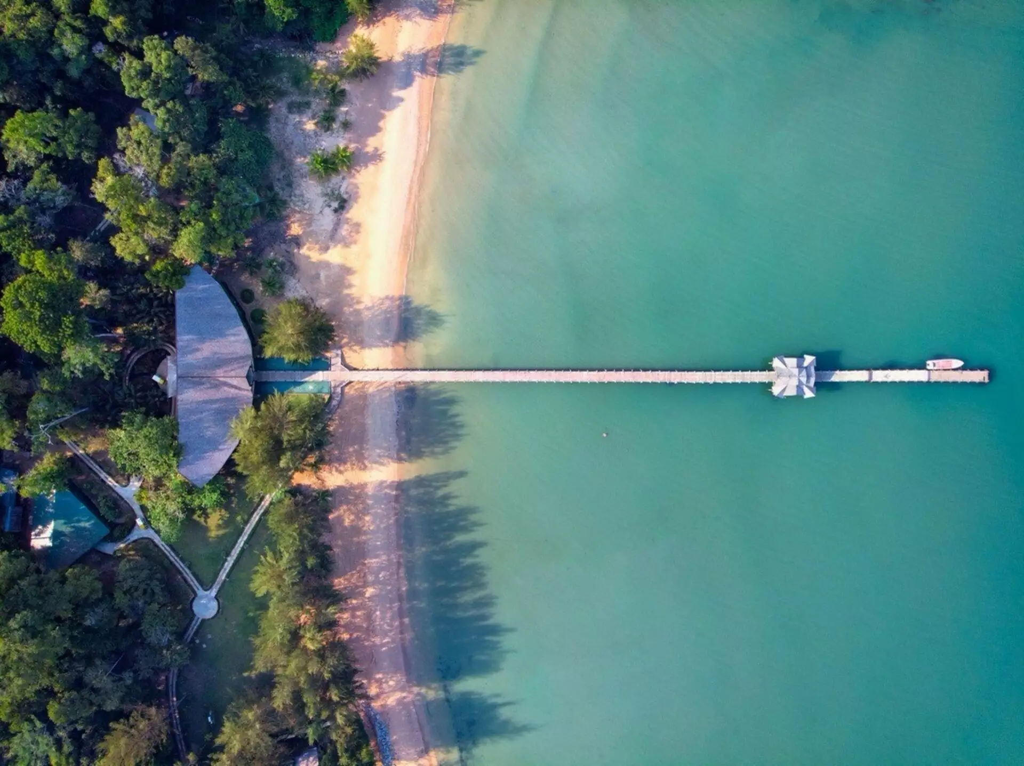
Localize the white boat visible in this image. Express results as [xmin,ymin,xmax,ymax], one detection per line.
[925,359,964,371]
